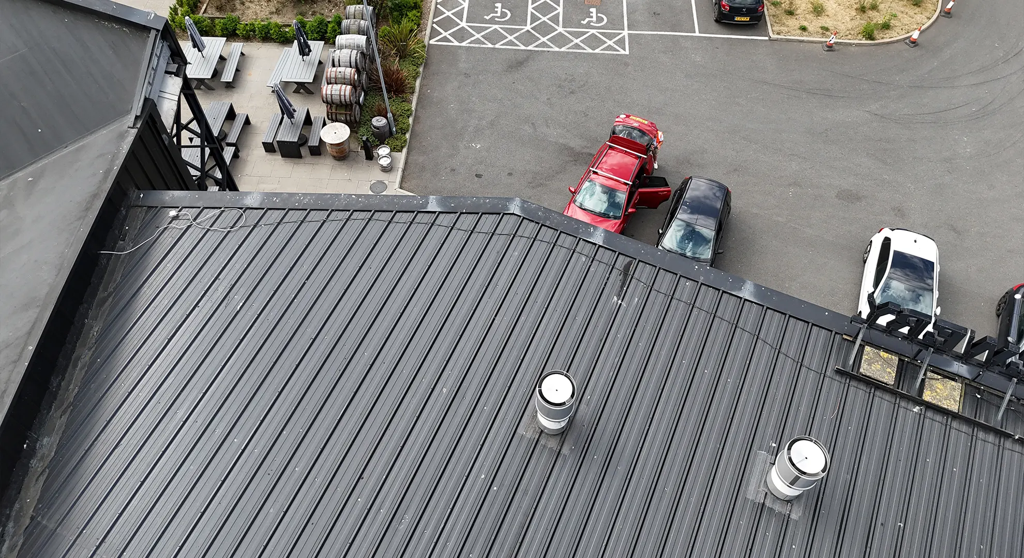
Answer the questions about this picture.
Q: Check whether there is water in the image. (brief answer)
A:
No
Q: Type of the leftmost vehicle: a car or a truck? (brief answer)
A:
car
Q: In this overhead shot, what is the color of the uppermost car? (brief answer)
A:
black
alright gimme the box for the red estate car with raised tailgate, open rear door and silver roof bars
[566,111,668,239]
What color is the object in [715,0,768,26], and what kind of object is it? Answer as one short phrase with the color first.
black car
